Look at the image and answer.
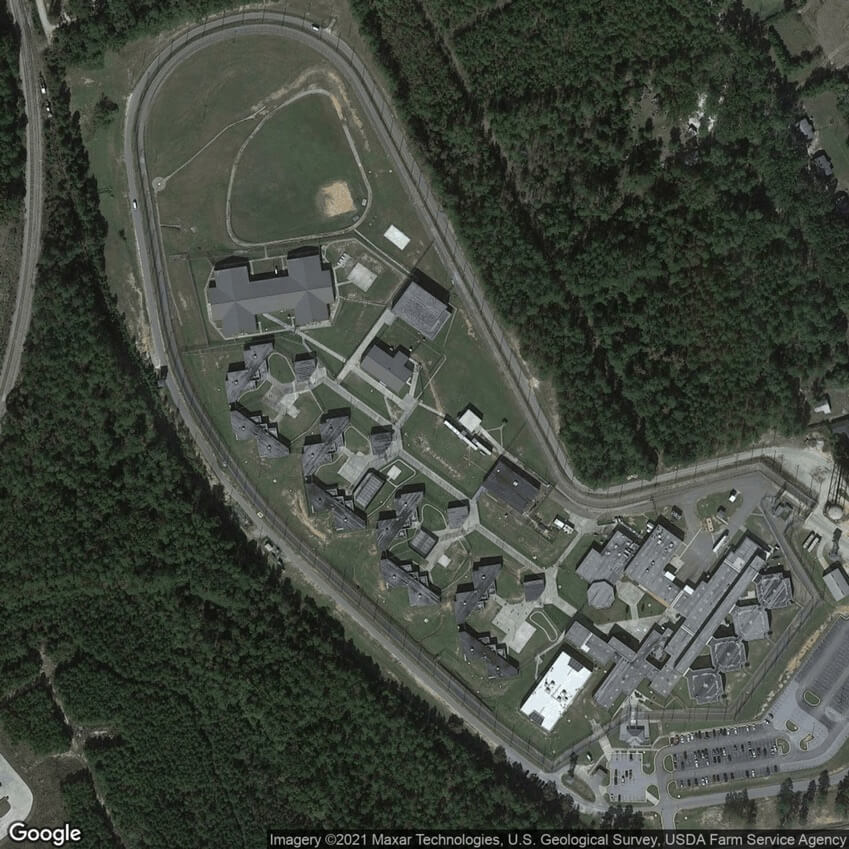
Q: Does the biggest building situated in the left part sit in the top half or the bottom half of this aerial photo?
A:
top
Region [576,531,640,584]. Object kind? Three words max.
building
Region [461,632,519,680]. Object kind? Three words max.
building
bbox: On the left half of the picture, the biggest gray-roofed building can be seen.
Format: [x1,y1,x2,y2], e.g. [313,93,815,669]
[208,255,336,337]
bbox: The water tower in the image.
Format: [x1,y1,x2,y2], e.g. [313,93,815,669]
[823,499,849,523]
